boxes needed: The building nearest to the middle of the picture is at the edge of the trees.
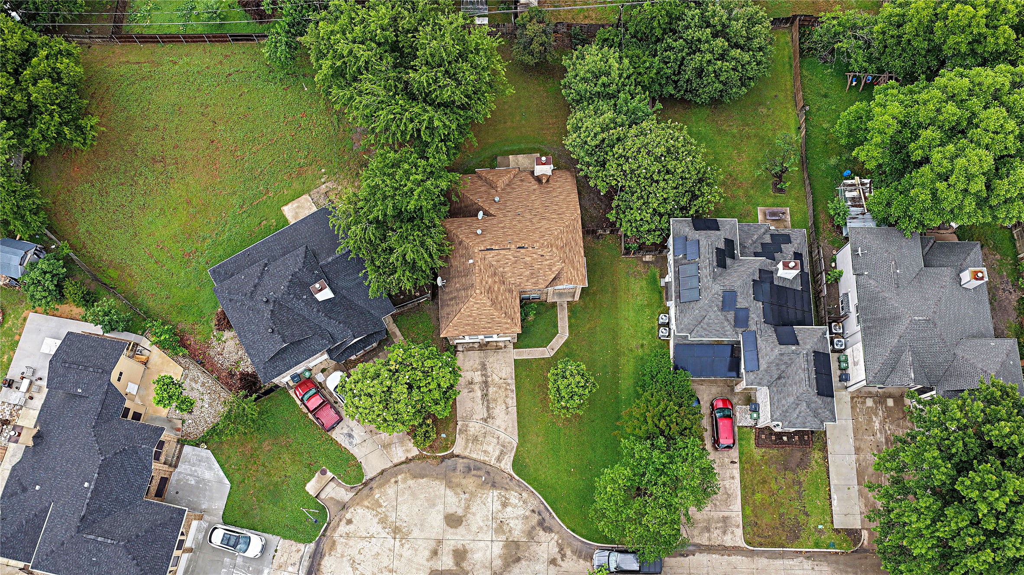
[438,156,588,345]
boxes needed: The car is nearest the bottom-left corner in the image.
[202,521,270,560]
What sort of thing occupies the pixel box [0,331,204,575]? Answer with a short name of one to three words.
house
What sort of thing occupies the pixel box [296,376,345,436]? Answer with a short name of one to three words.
truck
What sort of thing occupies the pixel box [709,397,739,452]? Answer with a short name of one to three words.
car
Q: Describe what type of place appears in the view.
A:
residential area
